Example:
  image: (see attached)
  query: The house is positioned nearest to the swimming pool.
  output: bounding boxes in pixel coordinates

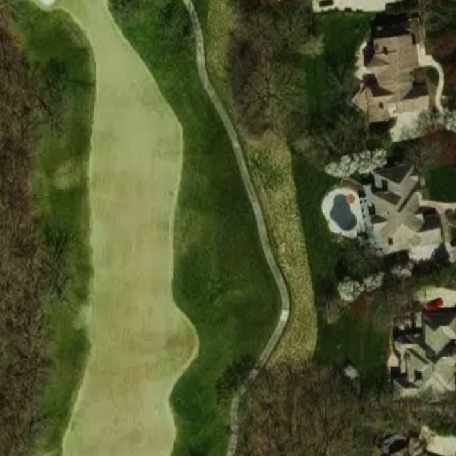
[368,157,456,275]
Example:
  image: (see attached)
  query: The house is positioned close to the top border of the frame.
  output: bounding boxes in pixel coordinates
[353,16,432,121]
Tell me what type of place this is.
golf course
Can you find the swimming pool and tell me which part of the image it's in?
right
